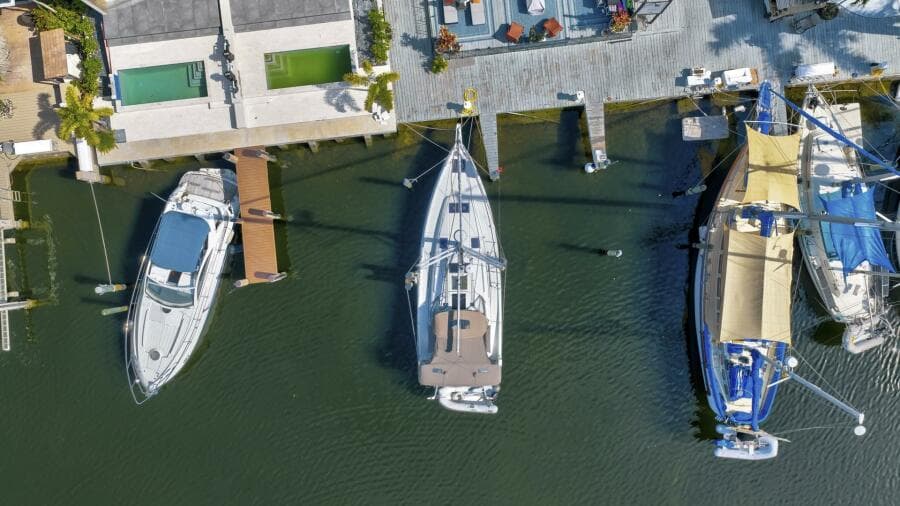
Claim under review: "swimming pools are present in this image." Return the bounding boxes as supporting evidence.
[258,41,356,92]
[114,58,214,108]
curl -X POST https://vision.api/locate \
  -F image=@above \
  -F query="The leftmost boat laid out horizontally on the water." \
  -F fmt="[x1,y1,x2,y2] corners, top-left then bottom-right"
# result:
[435,387,502,414]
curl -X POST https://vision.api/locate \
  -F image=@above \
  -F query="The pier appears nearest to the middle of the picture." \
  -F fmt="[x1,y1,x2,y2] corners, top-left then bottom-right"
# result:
[478,116,499,180]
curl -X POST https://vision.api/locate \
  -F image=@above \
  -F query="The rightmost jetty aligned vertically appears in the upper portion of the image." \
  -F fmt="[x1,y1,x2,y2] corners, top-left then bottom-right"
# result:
[771,87,790,134]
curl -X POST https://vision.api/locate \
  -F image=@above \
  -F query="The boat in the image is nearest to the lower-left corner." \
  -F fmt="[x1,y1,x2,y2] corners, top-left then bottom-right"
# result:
[127,168,240,403]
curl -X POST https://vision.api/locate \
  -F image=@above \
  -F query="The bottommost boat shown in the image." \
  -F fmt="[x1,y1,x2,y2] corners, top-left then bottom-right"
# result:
[711,425,783,460]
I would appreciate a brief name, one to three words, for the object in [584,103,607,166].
pier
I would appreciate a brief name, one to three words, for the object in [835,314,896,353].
boat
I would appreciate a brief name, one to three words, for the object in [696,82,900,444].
boat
